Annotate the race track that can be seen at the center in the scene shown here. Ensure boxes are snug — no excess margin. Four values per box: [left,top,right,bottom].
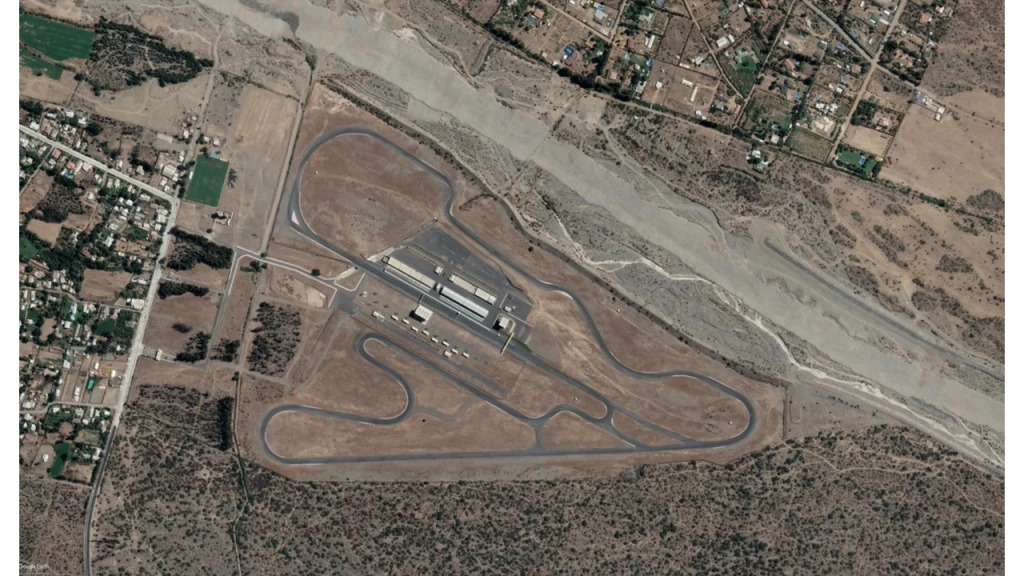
[240,84,785,481]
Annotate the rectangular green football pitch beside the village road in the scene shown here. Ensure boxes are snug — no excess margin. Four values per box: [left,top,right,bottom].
[185,154,229,206]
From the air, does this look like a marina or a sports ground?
sports ground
